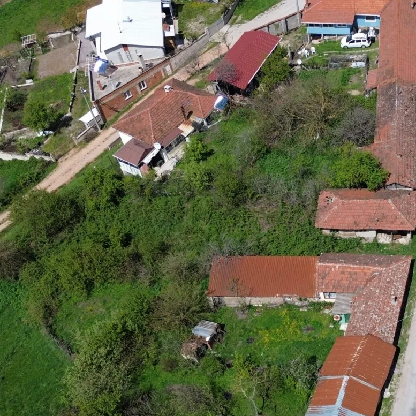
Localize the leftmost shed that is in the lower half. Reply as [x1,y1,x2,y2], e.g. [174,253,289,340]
[193,320,226,349]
